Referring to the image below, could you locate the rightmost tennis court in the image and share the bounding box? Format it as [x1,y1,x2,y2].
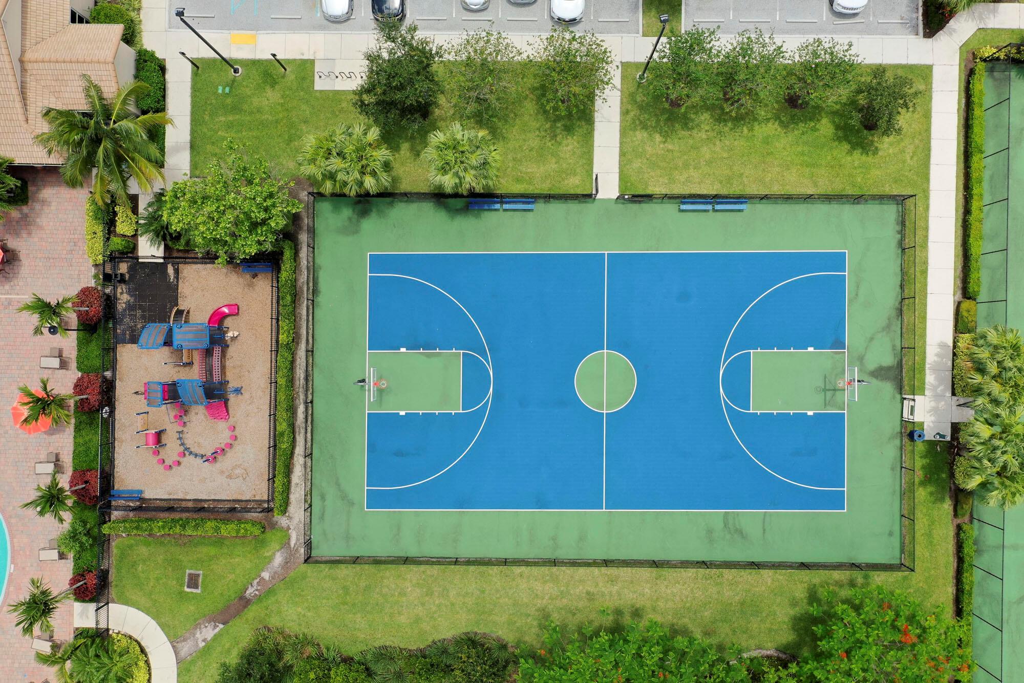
[974,62,1024,683]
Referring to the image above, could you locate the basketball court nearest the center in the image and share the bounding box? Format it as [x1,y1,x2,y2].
[310,198,903,564]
